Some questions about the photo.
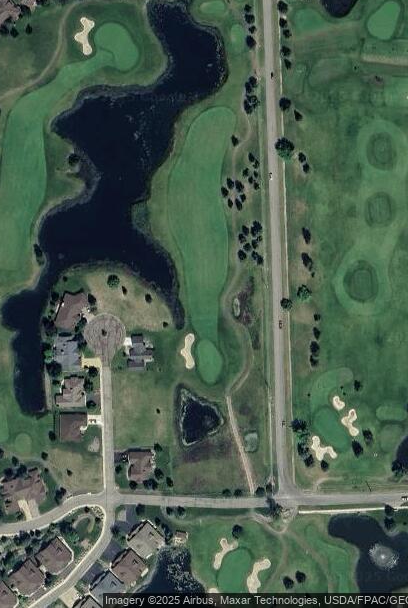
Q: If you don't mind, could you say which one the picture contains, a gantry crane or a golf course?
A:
golf course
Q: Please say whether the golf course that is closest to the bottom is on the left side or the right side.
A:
right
